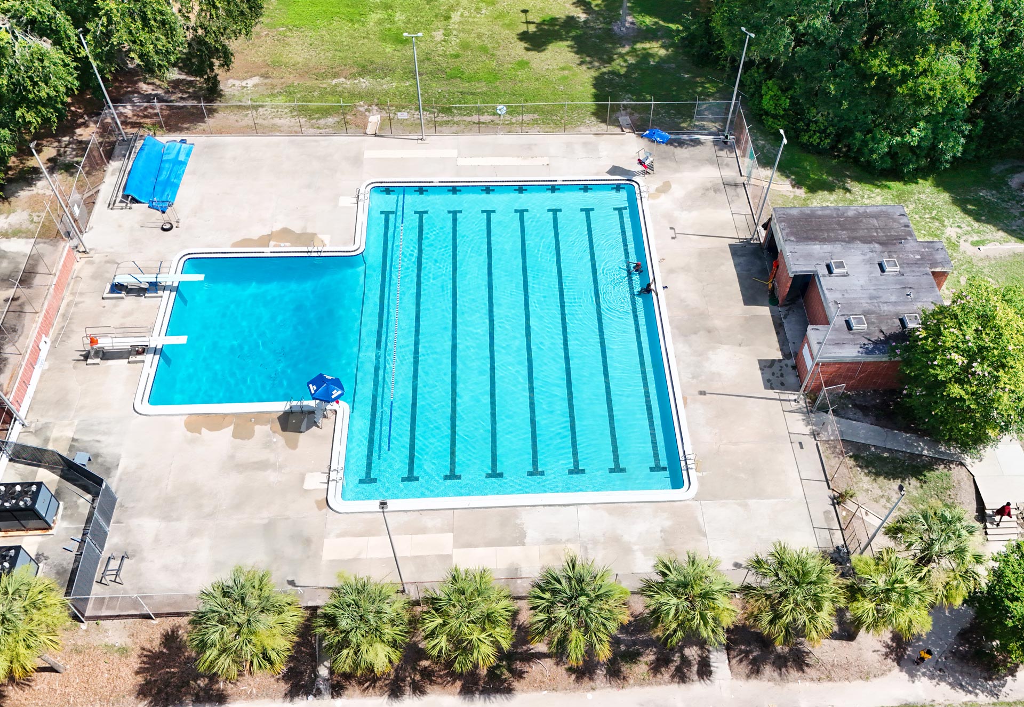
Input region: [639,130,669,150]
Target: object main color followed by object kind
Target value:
blue umbrella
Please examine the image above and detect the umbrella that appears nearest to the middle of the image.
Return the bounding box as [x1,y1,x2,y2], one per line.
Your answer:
[304,371,348,408]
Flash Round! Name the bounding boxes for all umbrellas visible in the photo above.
[304,371,348,408]
[639,130,669,150]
